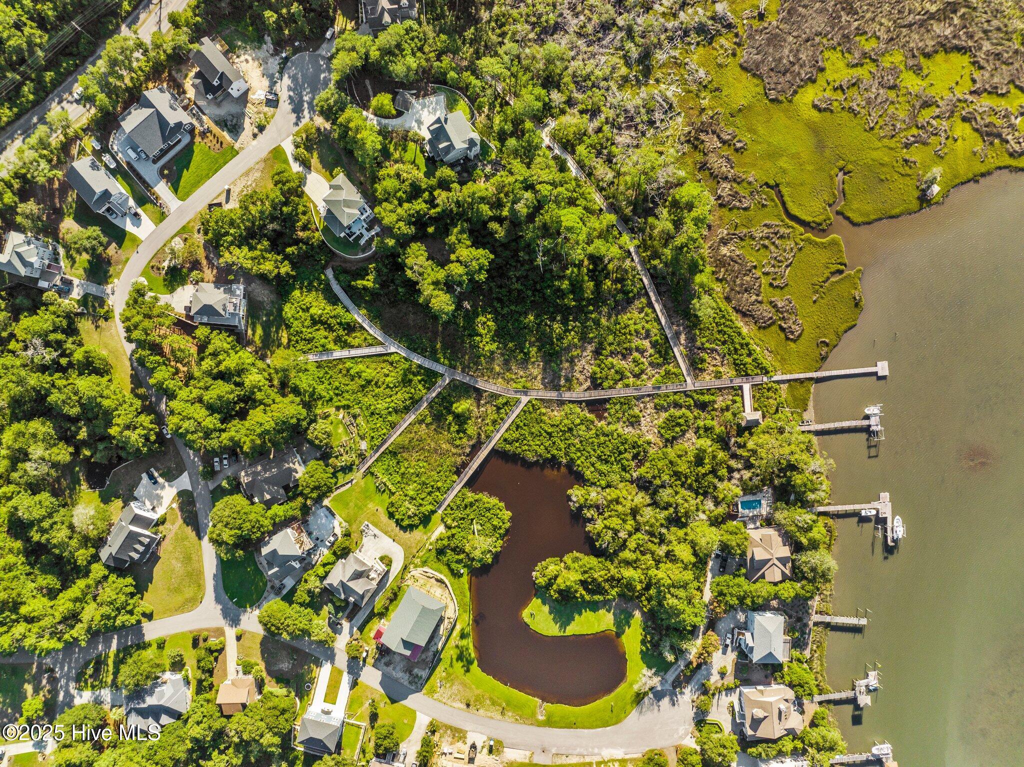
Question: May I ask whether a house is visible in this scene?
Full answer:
Yes, the photo shows a house.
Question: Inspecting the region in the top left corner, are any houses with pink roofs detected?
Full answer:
No, there is no house with a pink roof in the top left corner.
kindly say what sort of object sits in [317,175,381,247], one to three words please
house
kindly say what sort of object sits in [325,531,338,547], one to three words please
vehicle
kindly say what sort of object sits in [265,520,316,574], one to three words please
house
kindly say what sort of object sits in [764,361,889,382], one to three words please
pier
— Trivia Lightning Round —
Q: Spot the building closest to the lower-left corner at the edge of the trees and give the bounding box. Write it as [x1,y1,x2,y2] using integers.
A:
[125,668,205,740]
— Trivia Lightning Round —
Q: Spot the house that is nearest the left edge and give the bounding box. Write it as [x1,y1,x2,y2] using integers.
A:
[0,233,70,284]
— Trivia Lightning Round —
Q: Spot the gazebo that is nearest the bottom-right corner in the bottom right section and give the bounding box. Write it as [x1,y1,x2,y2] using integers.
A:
[851,688,870,706]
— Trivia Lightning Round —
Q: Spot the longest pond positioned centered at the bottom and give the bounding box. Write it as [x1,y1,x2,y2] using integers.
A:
[456,442,627,706]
